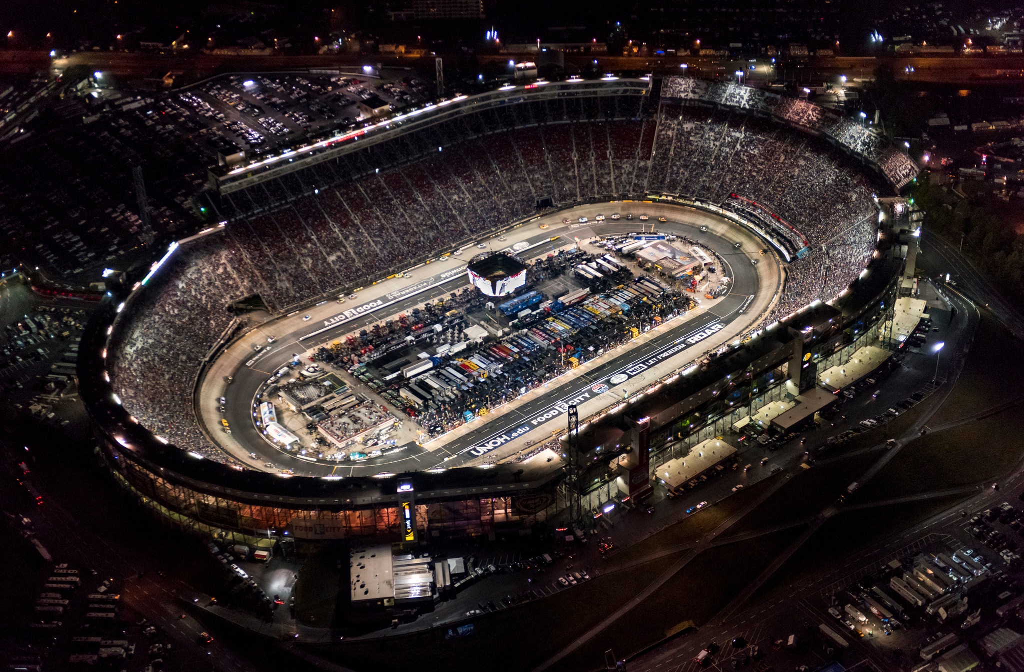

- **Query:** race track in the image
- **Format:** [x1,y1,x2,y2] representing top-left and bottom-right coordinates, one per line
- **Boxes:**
[199,202,781,475]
